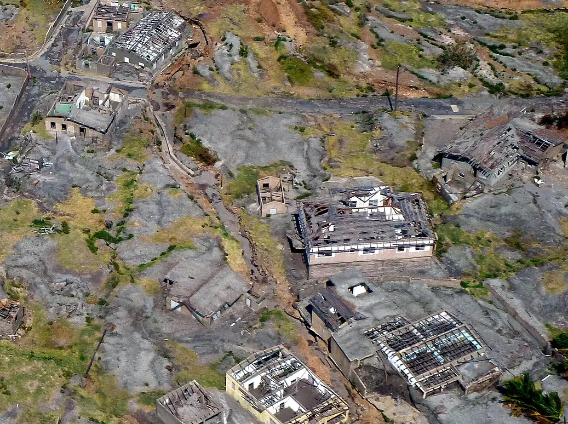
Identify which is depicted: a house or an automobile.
house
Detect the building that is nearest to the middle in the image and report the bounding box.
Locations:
[255,176,292,222]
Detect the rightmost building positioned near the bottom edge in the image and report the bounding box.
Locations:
[365,310,499,412]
